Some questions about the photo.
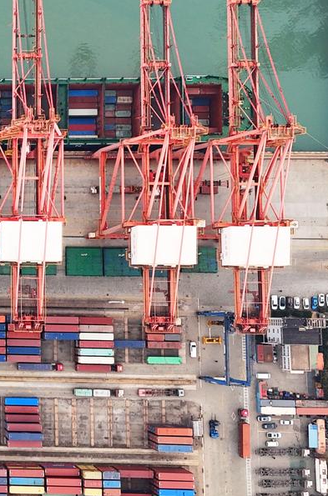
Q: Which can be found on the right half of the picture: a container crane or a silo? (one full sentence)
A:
Visible on the right half of the picture is a container crane.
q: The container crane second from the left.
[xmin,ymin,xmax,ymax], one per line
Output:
[79,0,219,338]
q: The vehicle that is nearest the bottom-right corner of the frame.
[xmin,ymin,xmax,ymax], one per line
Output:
[313,458,327,496]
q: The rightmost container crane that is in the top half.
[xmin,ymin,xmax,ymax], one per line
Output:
[169,0,319,339]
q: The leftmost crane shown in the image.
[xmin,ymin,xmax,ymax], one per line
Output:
[0,0,65,337]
